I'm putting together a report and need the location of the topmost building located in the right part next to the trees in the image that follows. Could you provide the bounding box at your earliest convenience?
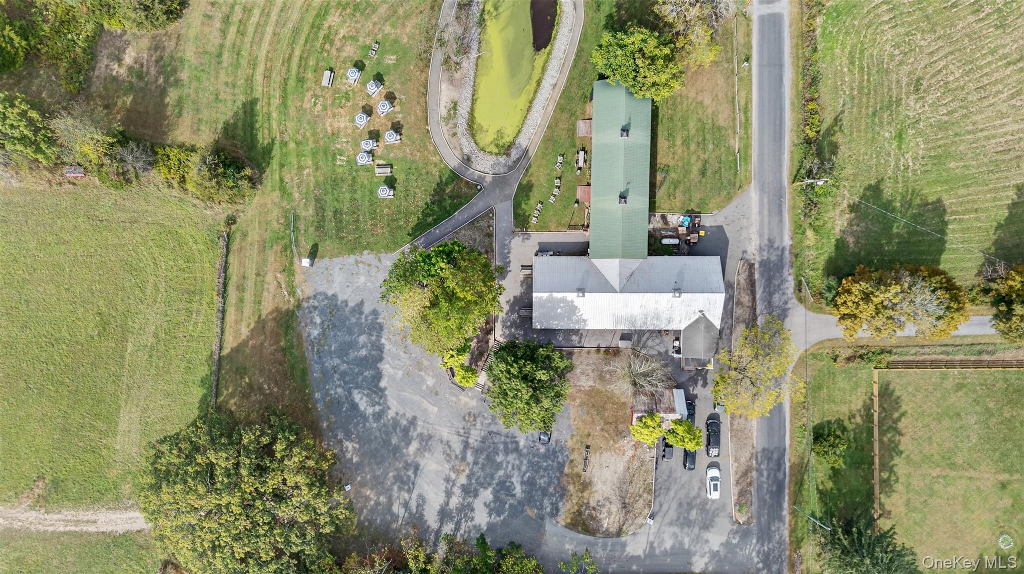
[588,86,653,261]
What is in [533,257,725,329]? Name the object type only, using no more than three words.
barn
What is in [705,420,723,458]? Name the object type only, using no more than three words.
vehicle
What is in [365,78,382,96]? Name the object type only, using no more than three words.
umbrella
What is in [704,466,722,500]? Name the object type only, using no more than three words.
car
